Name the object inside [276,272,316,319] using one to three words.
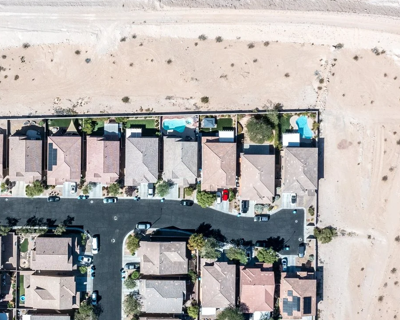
house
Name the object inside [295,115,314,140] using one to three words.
swimming pool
